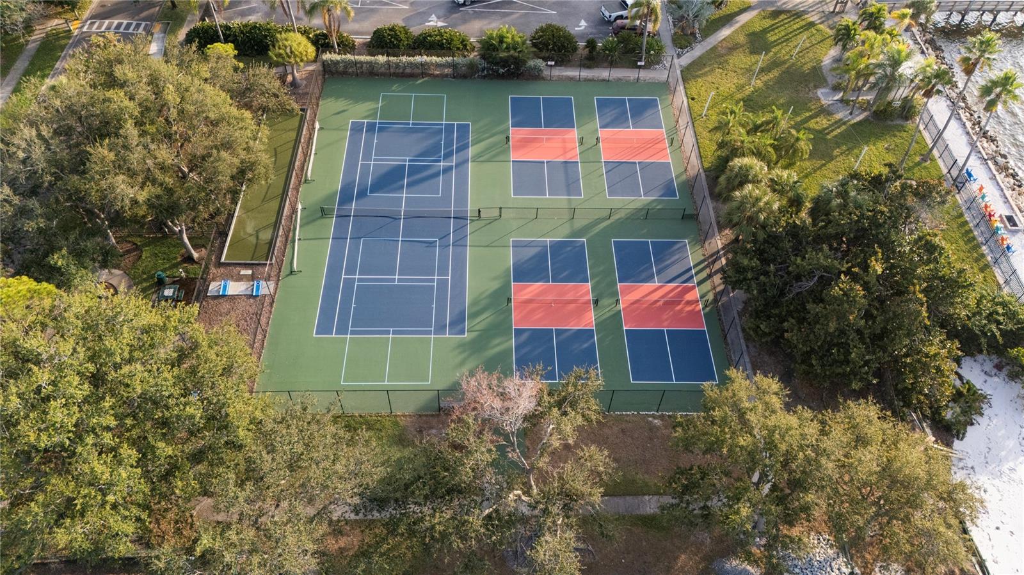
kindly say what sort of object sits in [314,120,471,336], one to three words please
tennis court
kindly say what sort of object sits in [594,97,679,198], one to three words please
sports court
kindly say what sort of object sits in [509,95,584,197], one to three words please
sports court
